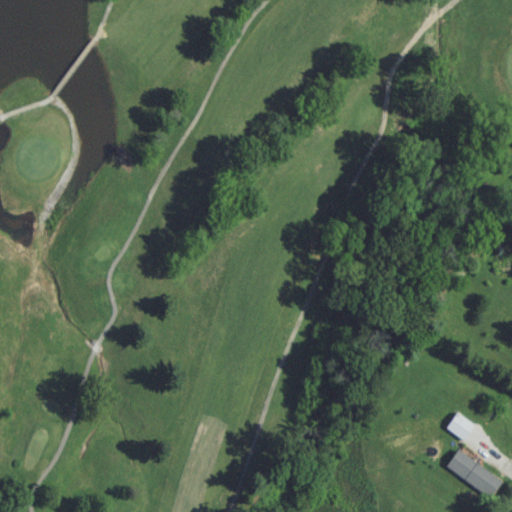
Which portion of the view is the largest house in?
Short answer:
bottom right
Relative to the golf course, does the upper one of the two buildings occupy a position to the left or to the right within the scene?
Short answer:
to the right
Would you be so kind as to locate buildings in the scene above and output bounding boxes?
[448,450,504,495]
[446,412,474,440]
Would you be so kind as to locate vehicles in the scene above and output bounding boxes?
[480,450,490,458]
[480,442,490,449]
[490,450,501,459]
